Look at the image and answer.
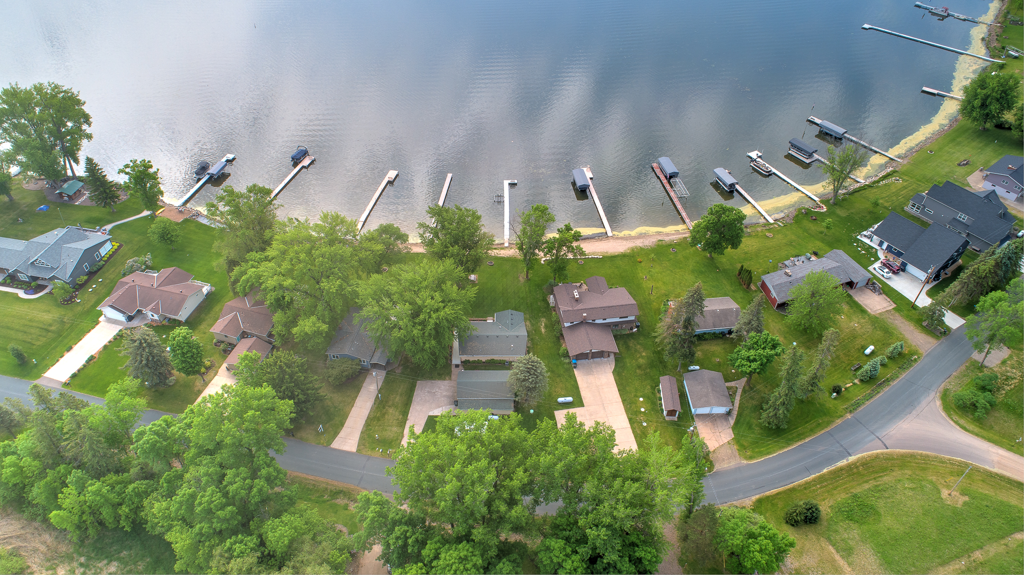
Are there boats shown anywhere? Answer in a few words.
Yes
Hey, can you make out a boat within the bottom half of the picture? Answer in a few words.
No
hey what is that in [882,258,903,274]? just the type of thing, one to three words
car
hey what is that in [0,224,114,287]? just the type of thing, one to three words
house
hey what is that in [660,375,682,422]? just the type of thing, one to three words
shed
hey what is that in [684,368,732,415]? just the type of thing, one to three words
building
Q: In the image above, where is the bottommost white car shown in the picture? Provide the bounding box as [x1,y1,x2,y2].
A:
[873,265,893,280]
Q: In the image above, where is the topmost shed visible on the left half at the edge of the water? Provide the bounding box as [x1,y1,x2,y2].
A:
[56,179,87,201]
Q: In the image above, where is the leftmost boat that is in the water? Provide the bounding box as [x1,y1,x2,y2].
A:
[192,161,212,179]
